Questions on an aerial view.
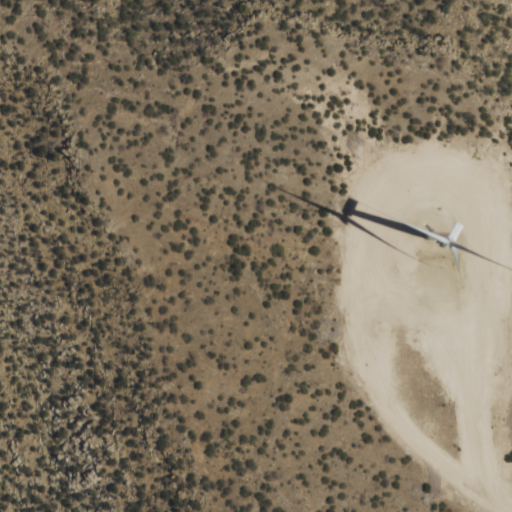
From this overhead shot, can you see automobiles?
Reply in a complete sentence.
No, no automobile is visible in the view.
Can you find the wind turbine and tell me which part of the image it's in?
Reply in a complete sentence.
The wind turbine sits in the right section of the image.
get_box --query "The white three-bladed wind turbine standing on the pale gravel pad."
[354,203,512,272]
